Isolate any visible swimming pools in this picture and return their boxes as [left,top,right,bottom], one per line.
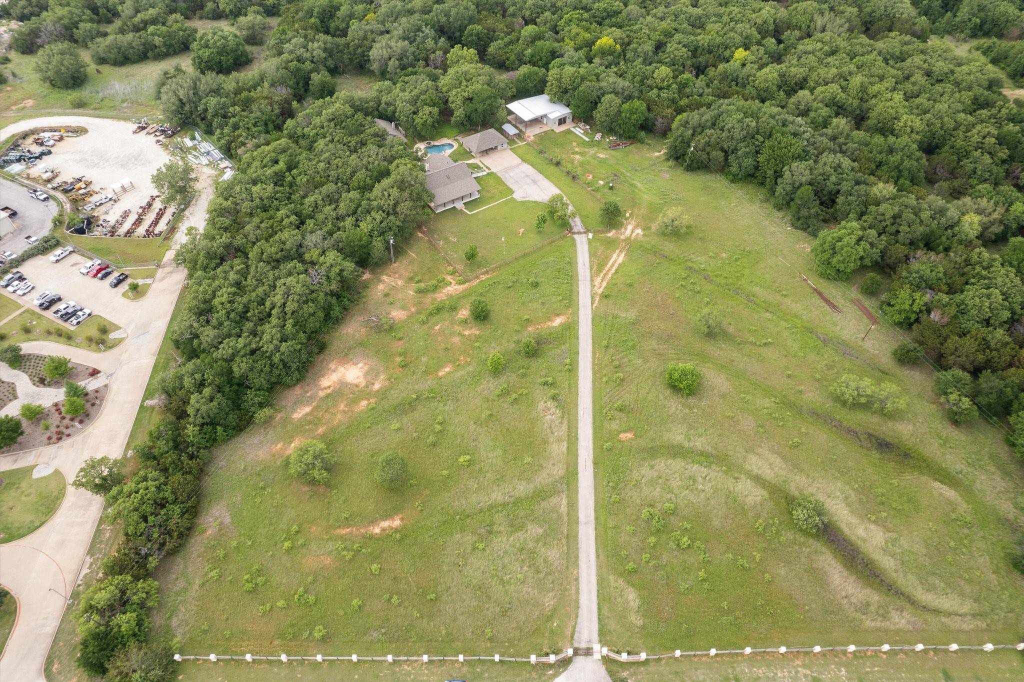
[418,137,458,156]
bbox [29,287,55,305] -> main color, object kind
white car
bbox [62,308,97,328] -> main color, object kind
white vehicle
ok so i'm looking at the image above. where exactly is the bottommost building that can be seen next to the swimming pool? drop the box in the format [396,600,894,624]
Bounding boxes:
[413,150,481,212]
